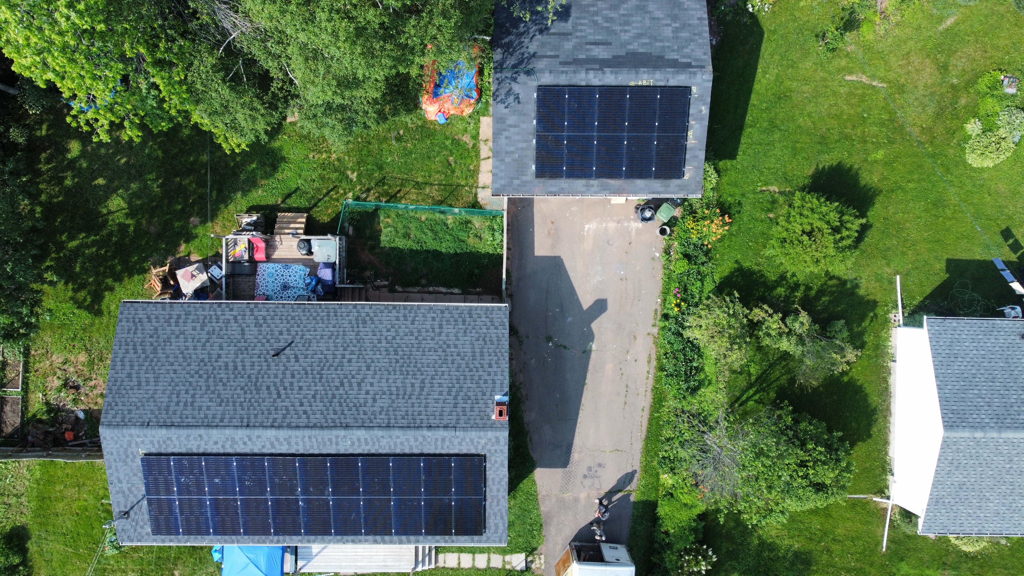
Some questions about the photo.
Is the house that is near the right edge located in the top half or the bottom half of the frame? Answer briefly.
bottom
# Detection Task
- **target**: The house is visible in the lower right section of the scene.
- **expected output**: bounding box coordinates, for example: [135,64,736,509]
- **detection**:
[888,315,1024,537]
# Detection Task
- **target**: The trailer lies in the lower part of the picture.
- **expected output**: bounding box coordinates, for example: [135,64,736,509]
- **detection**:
[554,541,636,576]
